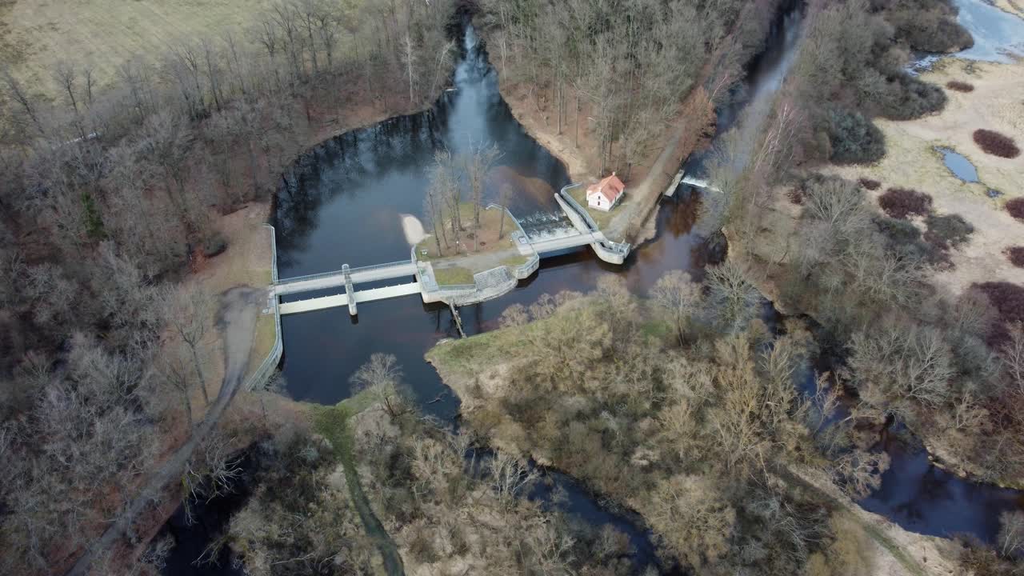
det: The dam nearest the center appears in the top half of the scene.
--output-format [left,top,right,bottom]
[516,193,591,252]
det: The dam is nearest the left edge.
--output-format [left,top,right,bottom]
[278,268,420,319]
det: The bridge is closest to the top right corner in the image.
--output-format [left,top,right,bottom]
[529,229,598,254]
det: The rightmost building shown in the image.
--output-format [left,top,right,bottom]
[582,173,621,211]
